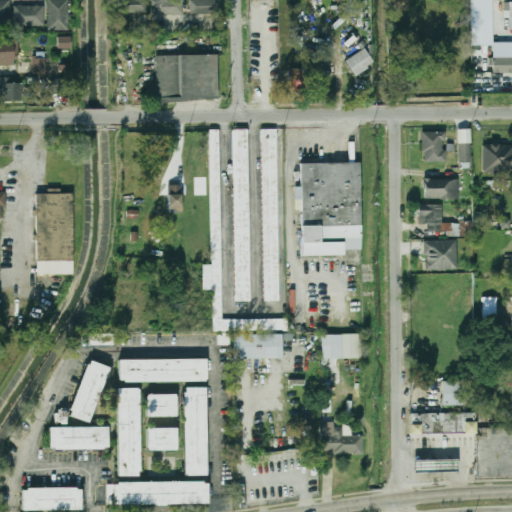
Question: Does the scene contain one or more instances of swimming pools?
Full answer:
No, there appears to be no swimming pool in this shot.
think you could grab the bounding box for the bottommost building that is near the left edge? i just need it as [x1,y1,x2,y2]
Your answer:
[21,487,83,510]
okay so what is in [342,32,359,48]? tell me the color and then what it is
white camper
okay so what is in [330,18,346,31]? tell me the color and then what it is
white vehicle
